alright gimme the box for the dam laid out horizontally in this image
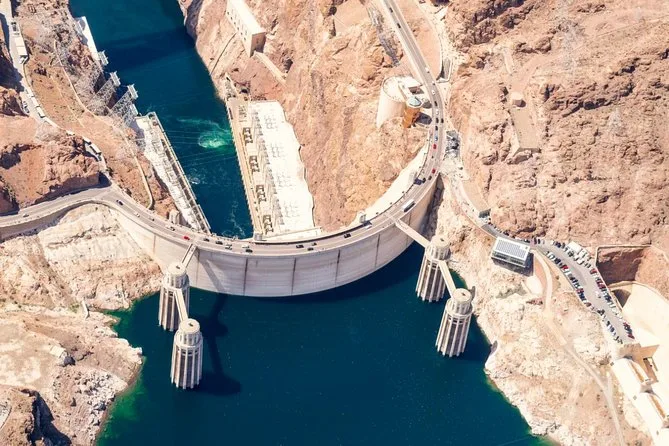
[105,140,447,298]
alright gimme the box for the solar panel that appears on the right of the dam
[494,238,528,258]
